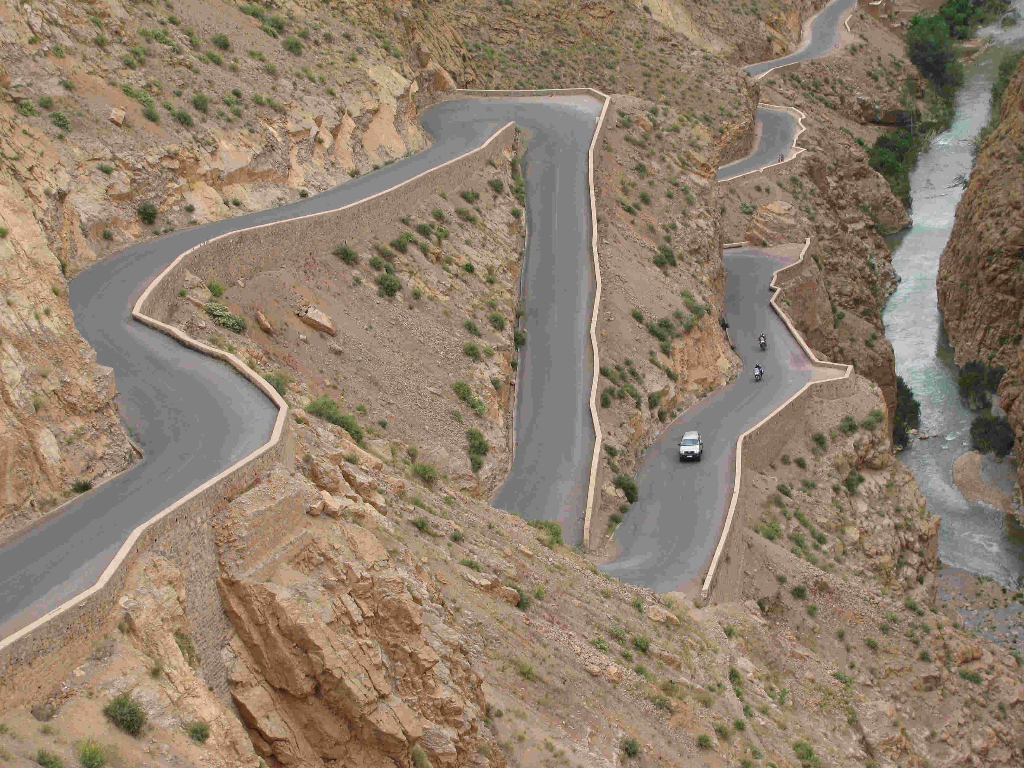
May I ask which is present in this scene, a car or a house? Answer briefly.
car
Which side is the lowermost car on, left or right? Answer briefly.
right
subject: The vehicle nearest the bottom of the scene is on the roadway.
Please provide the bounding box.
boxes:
[677,426,703,460]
